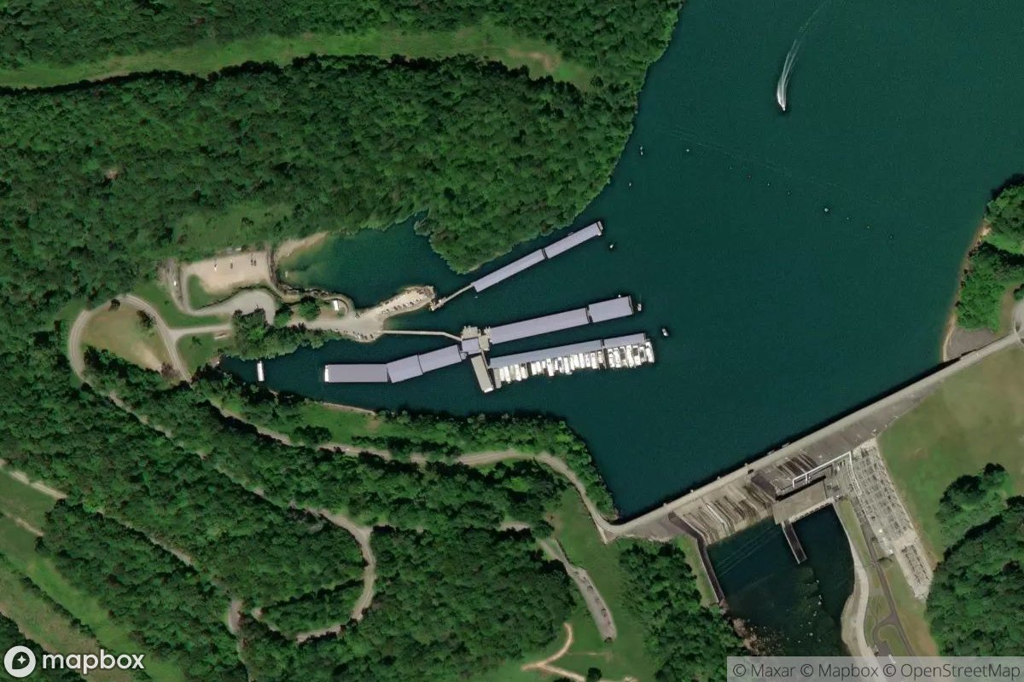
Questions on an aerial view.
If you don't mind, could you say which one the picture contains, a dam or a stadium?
dam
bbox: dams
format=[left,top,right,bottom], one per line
[619,340,1009,546]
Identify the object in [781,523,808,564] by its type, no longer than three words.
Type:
pier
